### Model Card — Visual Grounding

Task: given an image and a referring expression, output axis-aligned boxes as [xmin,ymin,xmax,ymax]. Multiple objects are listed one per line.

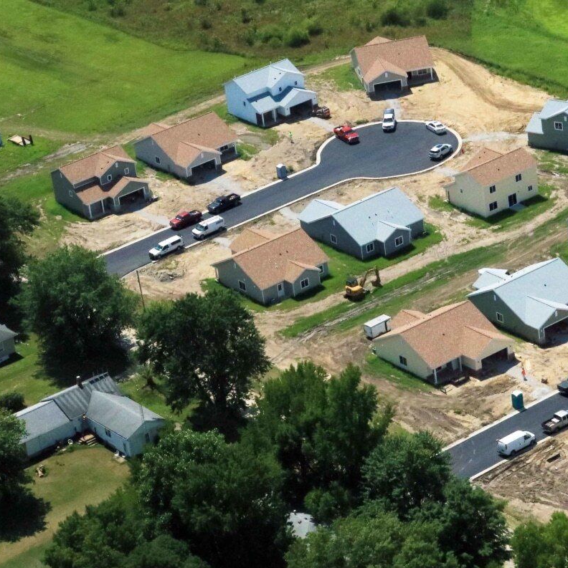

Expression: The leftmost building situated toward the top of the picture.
[49,144,150,217]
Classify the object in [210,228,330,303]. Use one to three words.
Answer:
house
